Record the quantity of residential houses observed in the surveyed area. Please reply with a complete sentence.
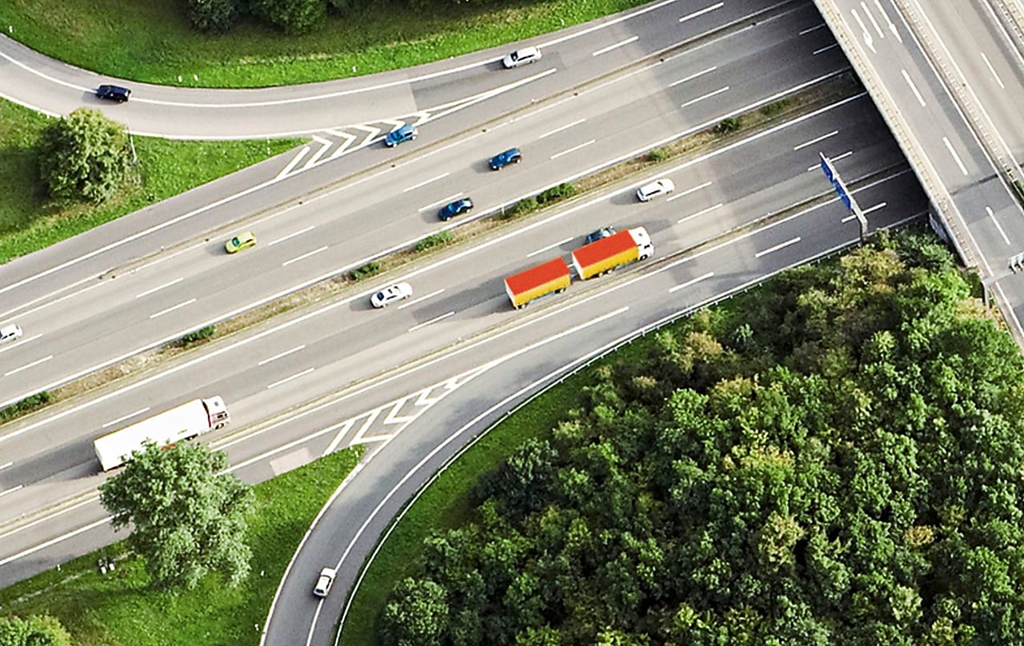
There are no residential houses in this view.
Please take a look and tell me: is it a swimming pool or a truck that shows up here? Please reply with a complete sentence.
The one in the frame is a truck.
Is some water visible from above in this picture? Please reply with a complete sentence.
No, there's no water in this view.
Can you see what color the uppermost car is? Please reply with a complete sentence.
In this view, the uppermost car is white.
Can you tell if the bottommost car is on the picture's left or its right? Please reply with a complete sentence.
The bottommost car appears in the left half of the scene.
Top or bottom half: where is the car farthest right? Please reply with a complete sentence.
You can find the car farthest right in the top half.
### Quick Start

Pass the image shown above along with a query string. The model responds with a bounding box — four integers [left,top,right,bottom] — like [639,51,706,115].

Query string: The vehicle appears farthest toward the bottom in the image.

[311,568,337,600]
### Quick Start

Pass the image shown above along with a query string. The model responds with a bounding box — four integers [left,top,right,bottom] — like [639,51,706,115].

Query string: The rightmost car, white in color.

[637,179,675,202]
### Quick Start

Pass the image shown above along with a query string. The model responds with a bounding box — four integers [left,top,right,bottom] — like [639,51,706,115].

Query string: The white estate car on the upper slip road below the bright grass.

[503,45,541,68]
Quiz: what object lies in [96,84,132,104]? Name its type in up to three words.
car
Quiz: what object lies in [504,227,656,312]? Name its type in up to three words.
truck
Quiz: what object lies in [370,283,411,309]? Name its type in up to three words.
car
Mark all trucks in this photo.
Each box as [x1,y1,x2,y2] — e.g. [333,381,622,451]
[94,396,230,472]
[504,227,656,312]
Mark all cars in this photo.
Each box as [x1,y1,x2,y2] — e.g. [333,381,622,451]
[438,197,475,222]
[637,179,675,202]
[96,84,132,104]
[583,224,620,245]
[488,147,522,171]
[224,230,258,254]
[311,568,337,600]
[370,283,411,309]
[503,45,541,68]
[385,123,418,147]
